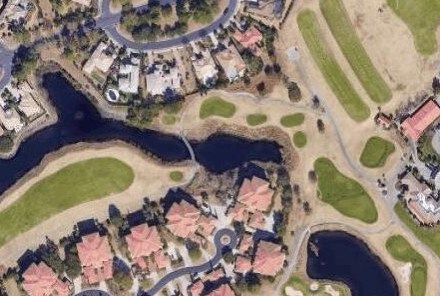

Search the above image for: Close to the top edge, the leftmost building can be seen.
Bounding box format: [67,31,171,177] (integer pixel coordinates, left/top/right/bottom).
[0,0,30,28]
